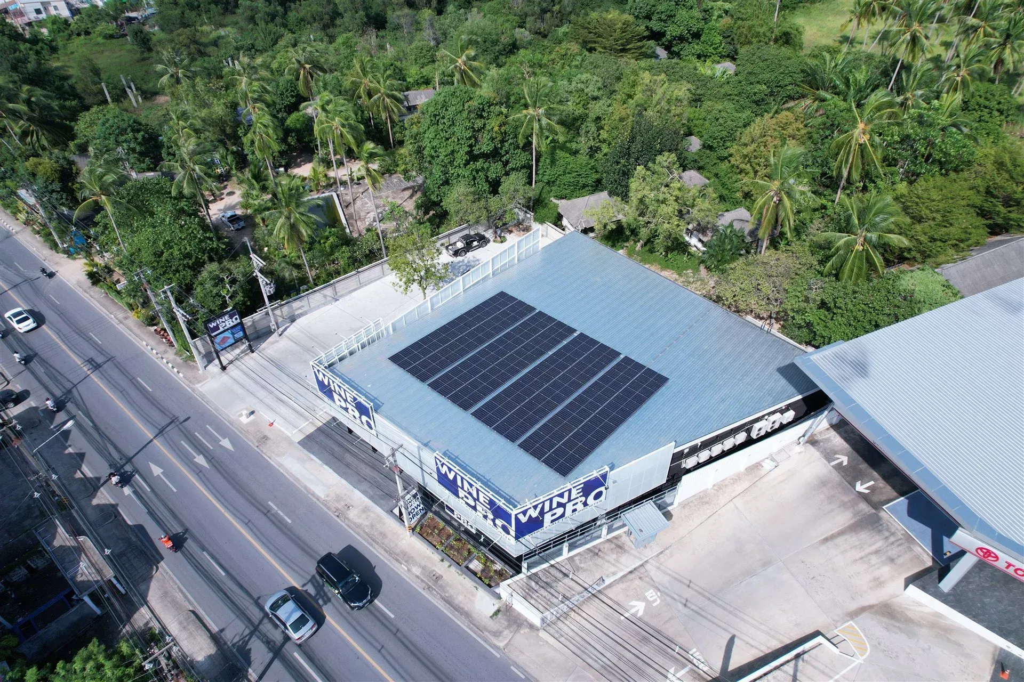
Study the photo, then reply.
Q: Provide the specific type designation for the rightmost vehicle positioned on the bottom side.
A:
car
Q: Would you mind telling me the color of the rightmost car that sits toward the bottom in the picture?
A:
black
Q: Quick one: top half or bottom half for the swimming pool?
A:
top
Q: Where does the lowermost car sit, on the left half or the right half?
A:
left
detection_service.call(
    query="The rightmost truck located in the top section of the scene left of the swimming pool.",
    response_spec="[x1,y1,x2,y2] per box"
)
[220,210,246,233]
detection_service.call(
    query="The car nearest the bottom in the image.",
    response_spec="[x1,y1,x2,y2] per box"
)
[265,589,318,647]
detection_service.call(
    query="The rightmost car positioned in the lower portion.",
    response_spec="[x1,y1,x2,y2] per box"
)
[314,556,370,615]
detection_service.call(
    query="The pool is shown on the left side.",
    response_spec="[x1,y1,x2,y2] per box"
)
[300,189,355,252]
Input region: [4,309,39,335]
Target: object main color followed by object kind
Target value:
white car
